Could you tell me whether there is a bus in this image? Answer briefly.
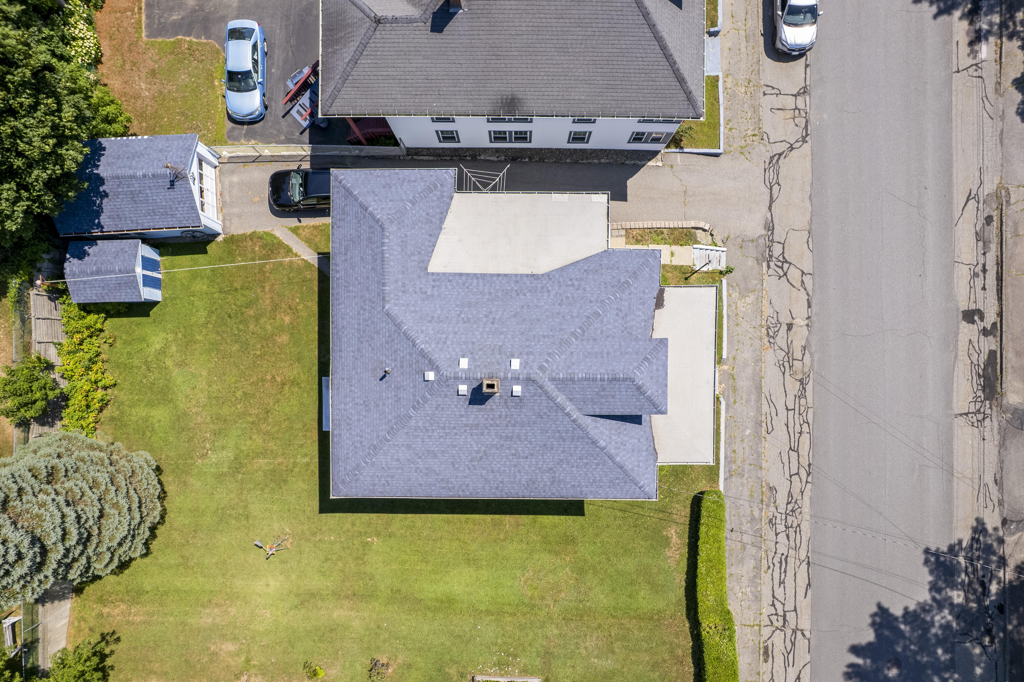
No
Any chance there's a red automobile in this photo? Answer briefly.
No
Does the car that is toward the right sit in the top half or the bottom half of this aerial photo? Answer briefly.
top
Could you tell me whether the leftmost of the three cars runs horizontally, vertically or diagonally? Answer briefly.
vertically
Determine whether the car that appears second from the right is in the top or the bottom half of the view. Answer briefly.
top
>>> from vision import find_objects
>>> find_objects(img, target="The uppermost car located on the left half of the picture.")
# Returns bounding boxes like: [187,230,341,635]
[218,16,269,126]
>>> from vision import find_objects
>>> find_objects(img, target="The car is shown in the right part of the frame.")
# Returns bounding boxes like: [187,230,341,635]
[768,0,825,57]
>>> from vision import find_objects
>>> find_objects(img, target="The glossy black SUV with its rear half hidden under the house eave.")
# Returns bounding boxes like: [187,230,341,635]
[267,162,333,213]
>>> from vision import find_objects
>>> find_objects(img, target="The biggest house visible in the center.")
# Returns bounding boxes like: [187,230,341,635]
[323,167,719,501]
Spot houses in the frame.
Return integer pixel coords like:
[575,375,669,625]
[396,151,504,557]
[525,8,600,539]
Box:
[319,0,706,152]
[323,167,719,501]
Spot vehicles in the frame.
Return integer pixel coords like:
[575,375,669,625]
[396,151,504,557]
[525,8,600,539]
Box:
[267,162,333,213]
[218,16,269,126]
[768,0,825,57]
